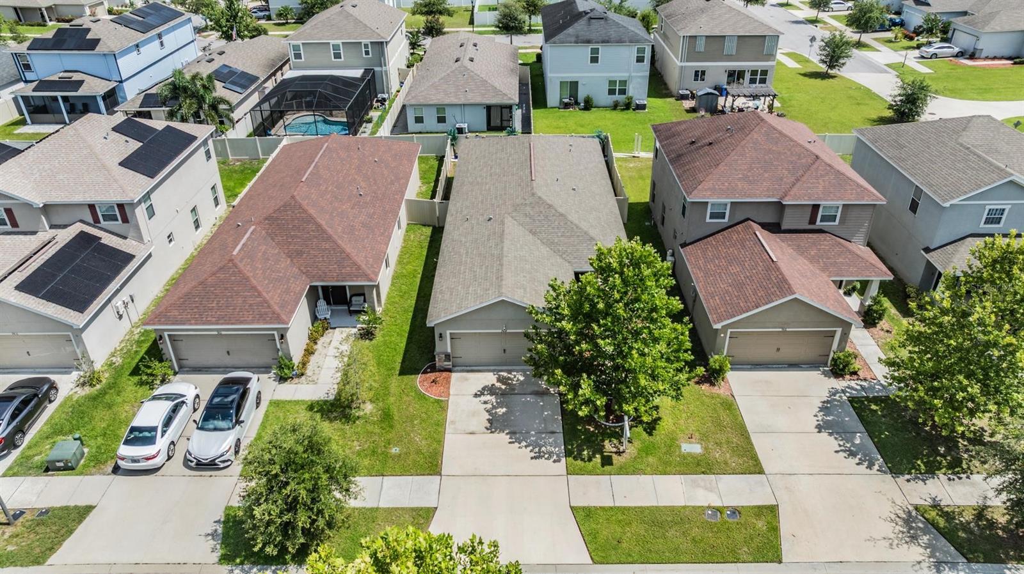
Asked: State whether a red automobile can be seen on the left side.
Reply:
No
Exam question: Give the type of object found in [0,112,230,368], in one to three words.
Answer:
house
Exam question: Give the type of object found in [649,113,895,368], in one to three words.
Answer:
house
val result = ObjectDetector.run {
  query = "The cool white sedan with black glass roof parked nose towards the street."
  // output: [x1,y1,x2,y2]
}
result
[181,376,255,469]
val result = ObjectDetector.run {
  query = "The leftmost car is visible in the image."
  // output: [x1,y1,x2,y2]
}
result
[0,374,53,452]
